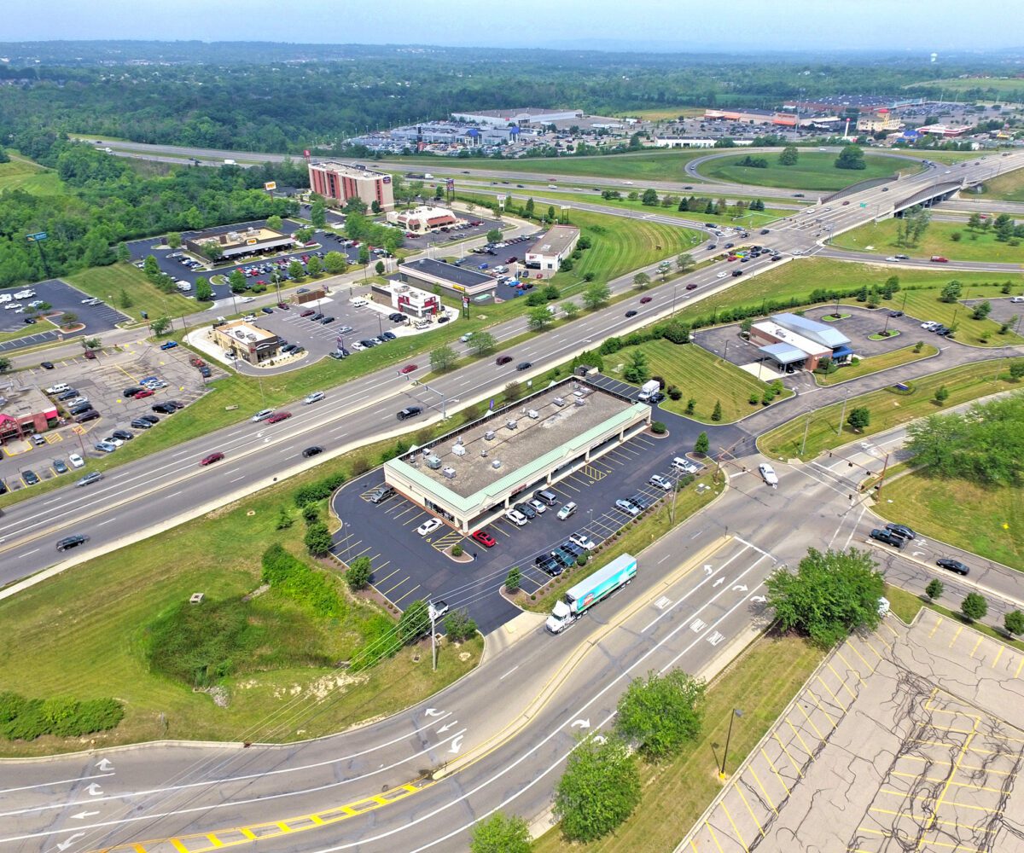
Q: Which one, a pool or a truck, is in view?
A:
truck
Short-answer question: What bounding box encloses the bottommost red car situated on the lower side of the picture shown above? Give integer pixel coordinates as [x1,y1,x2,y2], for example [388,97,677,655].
[472,529,496,545]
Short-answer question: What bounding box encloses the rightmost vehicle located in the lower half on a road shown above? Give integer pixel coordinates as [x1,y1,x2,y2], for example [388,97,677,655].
[937,555,972,574]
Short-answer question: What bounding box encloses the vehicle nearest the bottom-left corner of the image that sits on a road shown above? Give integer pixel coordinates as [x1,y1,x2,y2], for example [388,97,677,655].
[54,531,87,549]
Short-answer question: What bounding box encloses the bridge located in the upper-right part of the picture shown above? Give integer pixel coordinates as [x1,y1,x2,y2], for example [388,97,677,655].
[805,161,1024,233]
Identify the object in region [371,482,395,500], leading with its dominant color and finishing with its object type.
gray car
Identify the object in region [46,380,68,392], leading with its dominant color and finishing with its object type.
white vehicle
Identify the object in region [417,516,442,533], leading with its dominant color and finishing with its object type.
white car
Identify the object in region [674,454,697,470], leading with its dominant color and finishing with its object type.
white car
